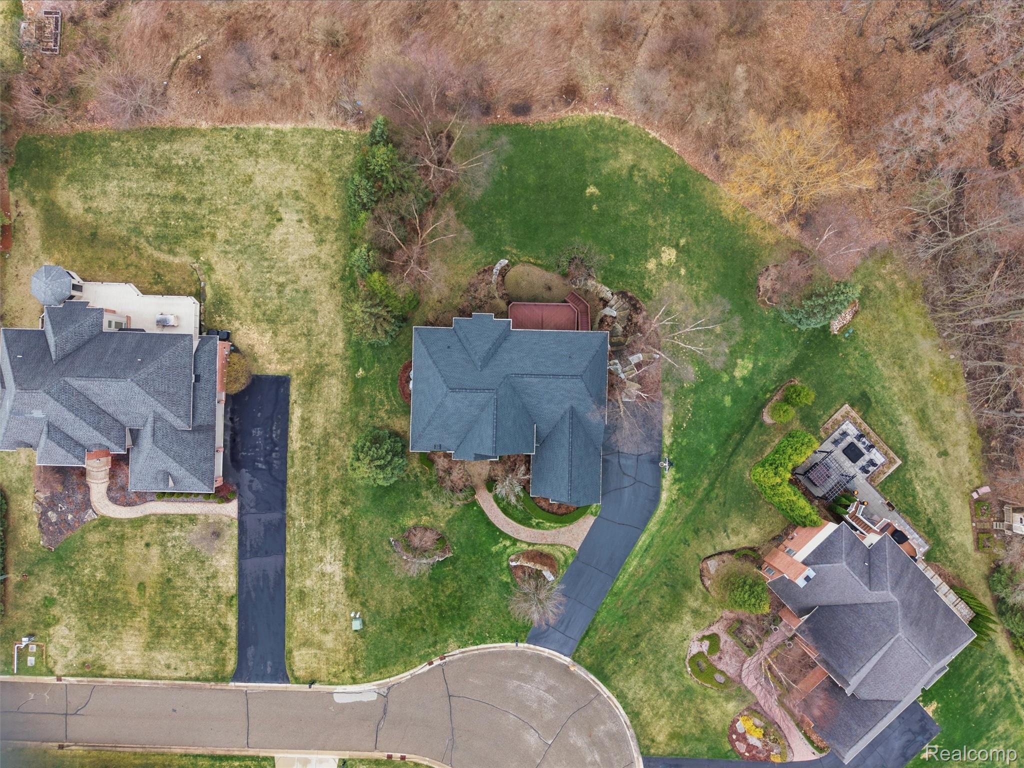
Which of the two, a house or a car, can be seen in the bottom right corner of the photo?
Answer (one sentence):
It is a house that can be seen in the bottom right corner of the photo.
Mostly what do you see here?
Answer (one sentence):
For the most part, this view shows grass.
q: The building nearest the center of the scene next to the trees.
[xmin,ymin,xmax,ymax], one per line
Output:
[409,313,610,510]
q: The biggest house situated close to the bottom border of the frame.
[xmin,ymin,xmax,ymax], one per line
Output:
[756,513,978,762]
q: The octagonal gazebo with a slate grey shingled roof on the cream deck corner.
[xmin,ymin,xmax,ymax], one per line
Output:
[32,266,82,305]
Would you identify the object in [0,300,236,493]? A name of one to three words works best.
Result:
house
